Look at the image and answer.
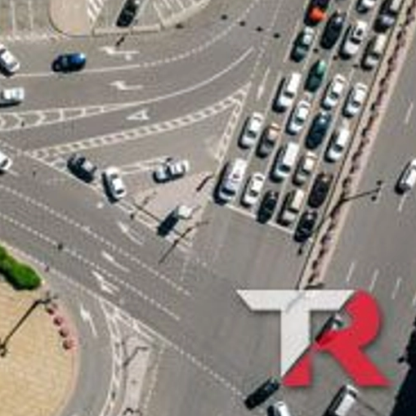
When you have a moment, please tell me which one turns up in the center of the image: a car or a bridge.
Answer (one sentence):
Looking in the center of the image, you will find a car.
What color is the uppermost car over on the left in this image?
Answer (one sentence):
The color of the uppermost car over on the left is black.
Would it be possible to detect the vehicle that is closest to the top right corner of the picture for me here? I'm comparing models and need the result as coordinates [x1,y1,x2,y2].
[373,0,401,32]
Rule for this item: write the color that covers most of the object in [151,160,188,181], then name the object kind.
white car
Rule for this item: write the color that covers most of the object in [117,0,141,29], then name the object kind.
black car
